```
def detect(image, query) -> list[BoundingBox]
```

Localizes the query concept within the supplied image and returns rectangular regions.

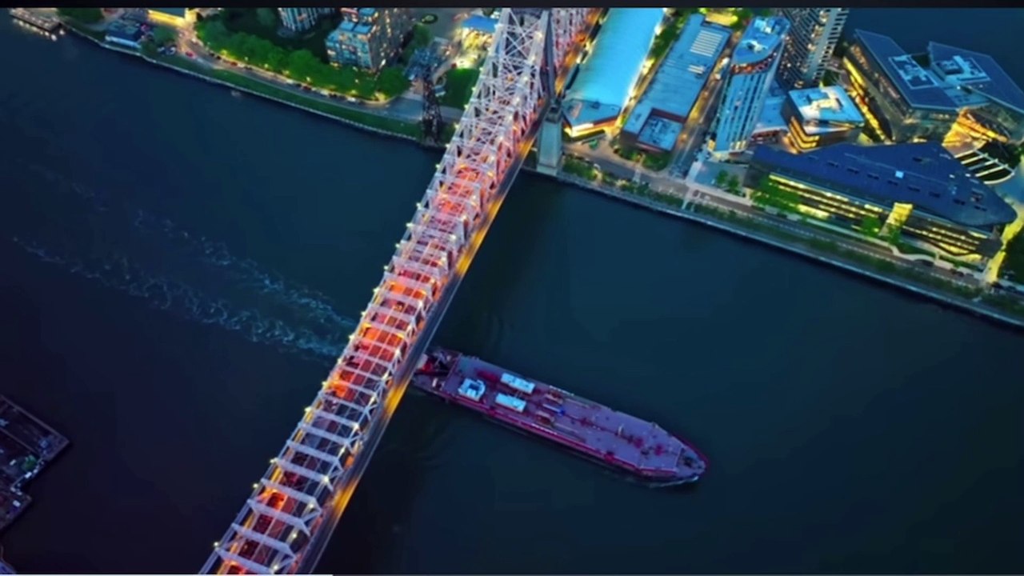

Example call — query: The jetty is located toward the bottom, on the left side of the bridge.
[0,393,71,533]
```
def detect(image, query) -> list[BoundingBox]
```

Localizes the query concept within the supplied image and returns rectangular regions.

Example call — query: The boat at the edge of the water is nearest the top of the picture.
[416,346,452,380]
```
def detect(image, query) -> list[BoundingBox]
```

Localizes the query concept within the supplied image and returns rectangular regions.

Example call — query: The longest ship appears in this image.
[413,346,706,480]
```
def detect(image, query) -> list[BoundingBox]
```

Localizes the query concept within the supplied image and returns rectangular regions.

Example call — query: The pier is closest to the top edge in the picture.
[9,7,63,38]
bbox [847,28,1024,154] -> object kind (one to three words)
building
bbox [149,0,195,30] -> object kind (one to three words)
building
